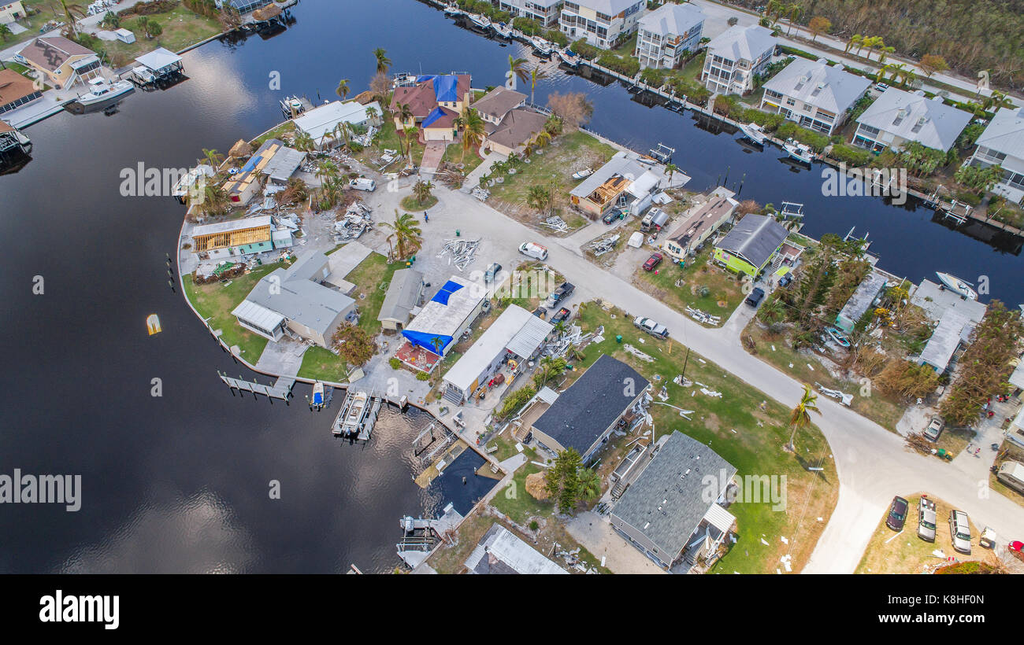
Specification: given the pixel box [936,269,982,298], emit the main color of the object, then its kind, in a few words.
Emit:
white boat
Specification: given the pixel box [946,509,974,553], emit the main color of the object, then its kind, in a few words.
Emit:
white car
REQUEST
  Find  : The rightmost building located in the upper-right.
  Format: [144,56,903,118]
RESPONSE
[965,106,1024,190]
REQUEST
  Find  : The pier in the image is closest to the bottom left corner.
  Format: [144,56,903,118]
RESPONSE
[212,365,295,401]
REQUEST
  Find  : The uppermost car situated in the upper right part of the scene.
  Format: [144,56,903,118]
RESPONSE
[775,43,792,56]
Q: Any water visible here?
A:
Yes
